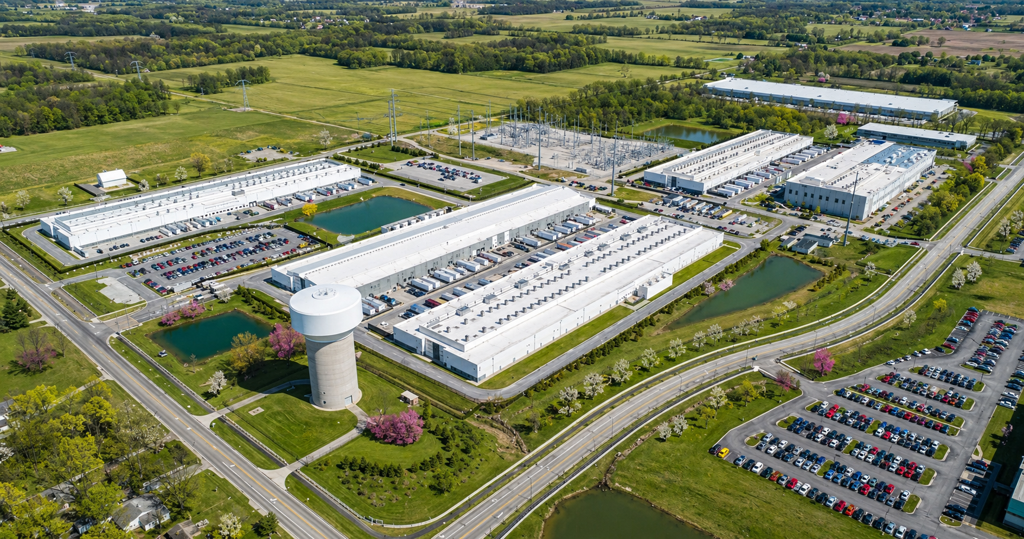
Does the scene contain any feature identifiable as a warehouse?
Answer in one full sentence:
Yes, you can see a warehouse in this photo.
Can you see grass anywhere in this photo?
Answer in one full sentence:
Yes, grass shows up in the scene.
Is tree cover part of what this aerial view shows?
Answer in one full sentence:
Yes, tree cover can be seen from above here.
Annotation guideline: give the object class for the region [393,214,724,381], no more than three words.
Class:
warehouse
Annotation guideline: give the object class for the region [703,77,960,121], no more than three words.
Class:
building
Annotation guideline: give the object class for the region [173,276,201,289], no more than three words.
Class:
vehicle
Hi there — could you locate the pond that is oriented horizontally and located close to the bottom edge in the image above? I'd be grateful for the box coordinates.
[542,486,705,539]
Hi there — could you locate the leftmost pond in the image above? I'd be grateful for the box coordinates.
[153,312,272,361]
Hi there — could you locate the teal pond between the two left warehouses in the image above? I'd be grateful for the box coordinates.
[303,196,432,235]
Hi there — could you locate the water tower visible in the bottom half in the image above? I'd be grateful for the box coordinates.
[288,285,365,410]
